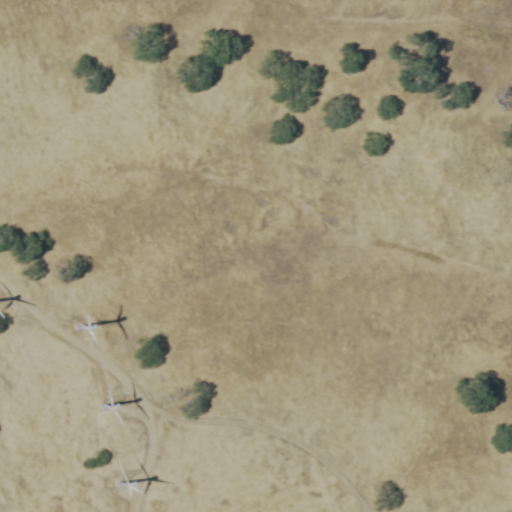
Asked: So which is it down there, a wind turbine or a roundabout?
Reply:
wind turbine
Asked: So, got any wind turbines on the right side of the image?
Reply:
No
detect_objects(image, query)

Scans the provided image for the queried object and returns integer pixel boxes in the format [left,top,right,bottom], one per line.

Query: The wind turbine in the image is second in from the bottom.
[97,391,122,426]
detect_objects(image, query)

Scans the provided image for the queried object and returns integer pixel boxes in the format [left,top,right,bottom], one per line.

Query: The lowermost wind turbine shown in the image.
[114,468,136,500]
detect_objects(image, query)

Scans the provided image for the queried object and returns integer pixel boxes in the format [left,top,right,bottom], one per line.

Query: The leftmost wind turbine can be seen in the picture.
[72,312,100,344]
